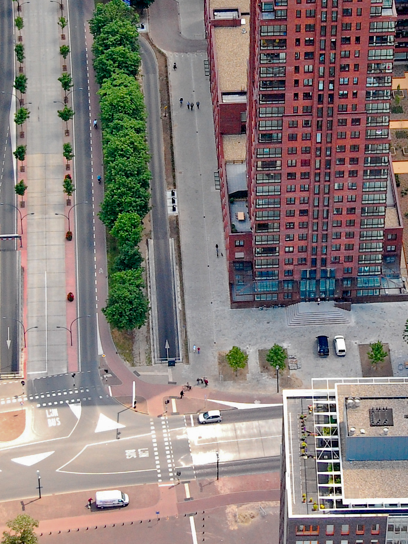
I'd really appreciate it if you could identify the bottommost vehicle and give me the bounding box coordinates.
[96,489,127,507]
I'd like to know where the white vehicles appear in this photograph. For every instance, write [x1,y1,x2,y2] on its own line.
[96,489,127,507]
[334,337,345,356]
[197,409,222,424]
